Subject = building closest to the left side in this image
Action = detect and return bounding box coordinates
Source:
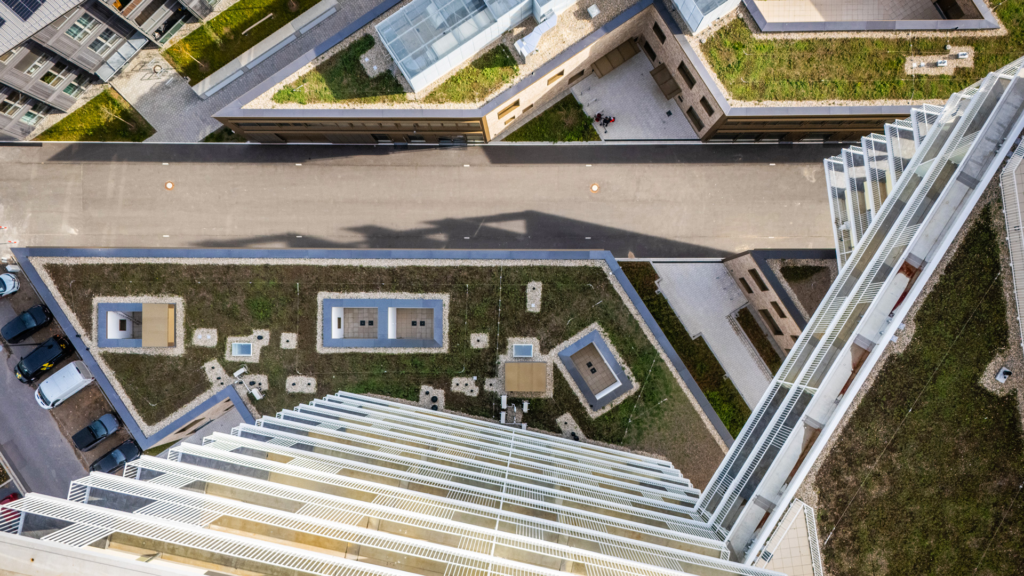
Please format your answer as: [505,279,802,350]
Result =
[0,0,151,140]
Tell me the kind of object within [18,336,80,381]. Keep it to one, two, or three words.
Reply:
van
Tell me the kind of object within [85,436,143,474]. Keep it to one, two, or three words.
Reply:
car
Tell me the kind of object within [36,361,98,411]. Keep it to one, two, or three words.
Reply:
van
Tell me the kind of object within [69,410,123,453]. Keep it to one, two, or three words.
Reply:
car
